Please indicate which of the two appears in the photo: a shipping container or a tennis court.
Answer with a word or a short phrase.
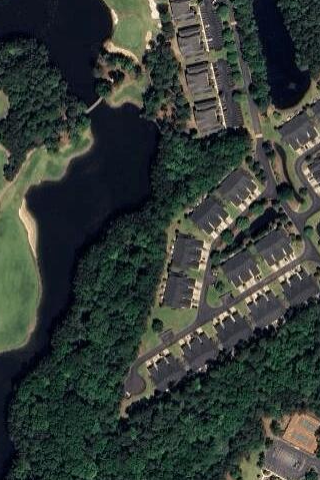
tennis court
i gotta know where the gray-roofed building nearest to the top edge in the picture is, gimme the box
[170,0,198,24]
